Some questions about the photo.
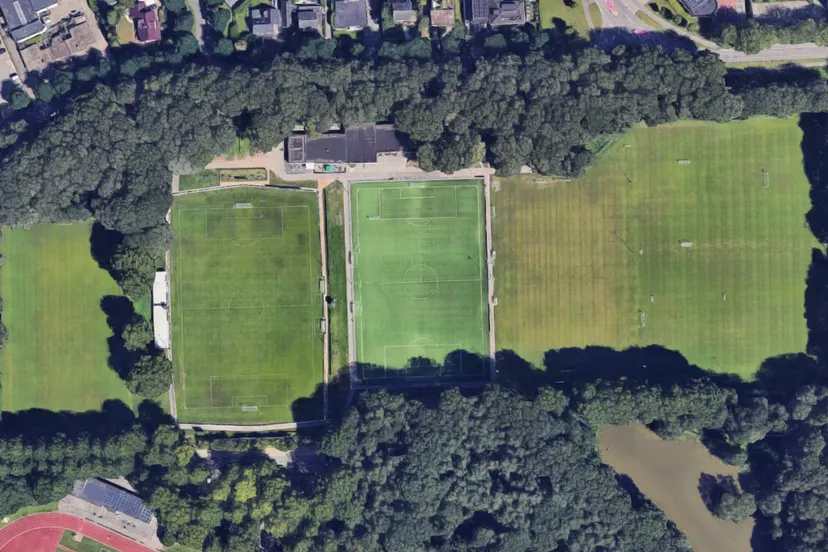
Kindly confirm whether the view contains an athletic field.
Yes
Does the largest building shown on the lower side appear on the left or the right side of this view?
left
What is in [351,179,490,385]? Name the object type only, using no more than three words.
soccer field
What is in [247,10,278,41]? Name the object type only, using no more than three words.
house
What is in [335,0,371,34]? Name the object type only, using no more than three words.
house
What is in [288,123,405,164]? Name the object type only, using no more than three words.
building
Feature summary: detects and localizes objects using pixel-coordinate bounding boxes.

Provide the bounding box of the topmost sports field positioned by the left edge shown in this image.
[0,214,172,445]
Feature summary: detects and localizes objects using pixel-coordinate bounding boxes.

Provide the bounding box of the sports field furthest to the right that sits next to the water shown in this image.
[491,111,828,398]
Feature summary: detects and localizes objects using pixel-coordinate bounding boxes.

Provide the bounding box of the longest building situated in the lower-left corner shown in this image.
[74,477,154,523]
